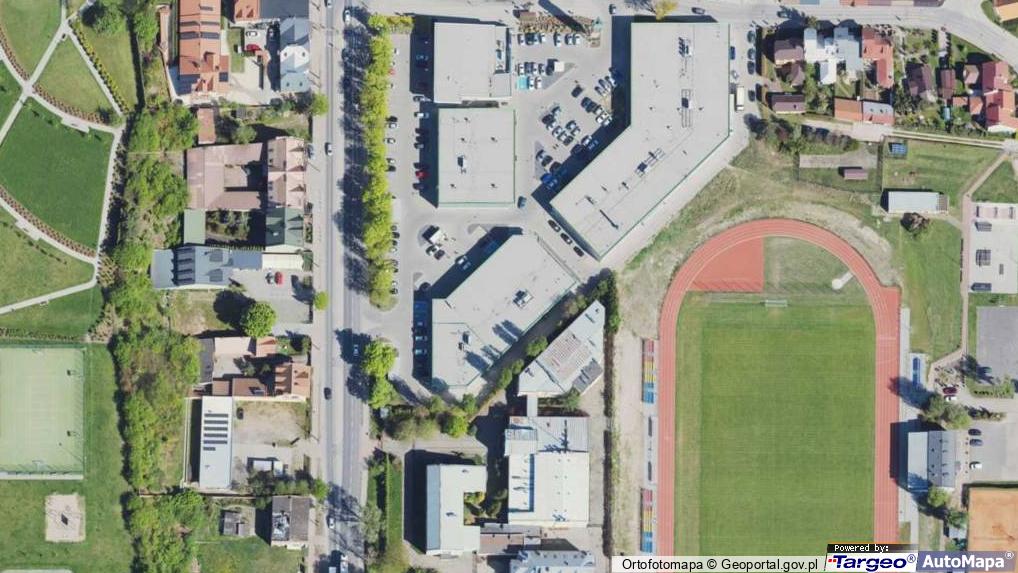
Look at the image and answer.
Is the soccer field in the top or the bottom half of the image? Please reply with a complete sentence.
The soccer field sits in the bottom half of the picture.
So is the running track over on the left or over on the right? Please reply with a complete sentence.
It is on the right.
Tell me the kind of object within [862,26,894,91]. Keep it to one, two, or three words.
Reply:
house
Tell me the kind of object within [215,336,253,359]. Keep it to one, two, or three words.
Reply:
barn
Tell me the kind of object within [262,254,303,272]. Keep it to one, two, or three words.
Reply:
building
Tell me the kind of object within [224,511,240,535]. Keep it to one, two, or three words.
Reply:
shed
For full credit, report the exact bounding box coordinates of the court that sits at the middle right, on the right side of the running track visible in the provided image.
[977,306,1018,384]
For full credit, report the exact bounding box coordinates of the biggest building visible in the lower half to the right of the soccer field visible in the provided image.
[908,430,955,494]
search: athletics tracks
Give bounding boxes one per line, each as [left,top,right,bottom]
[658,220,900,573]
